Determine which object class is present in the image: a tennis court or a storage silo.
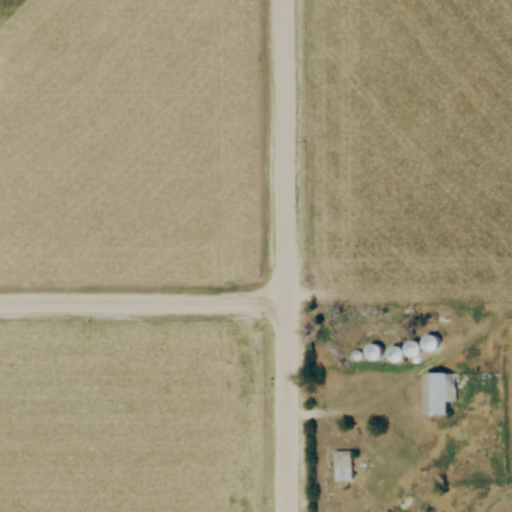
storage silo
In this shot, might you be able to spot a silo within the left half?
No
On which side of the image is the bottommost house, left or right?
right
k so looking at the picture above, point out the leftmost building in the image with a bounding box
[334,451,355,484]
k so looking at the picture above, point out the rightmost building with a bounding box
[428,372,458,416]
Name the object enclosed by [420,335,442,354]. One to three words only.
silo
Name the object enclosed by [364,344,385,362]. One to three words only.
silo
